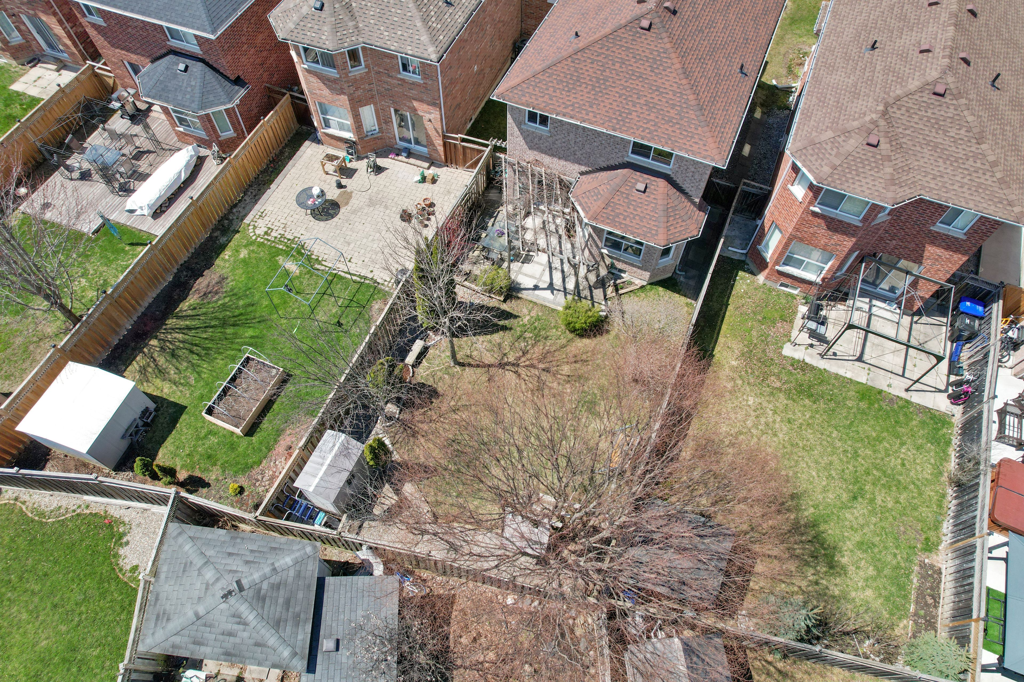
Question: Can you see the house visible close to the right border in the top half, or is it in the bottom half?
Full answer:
It is in the top half that the house visible close to the right border appears.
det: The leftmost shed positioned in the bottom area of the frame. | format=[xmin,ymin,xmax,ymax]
[15,361,154,467]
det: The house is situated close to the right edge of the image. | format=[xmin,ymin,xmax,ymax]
[739,0,1024,312]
